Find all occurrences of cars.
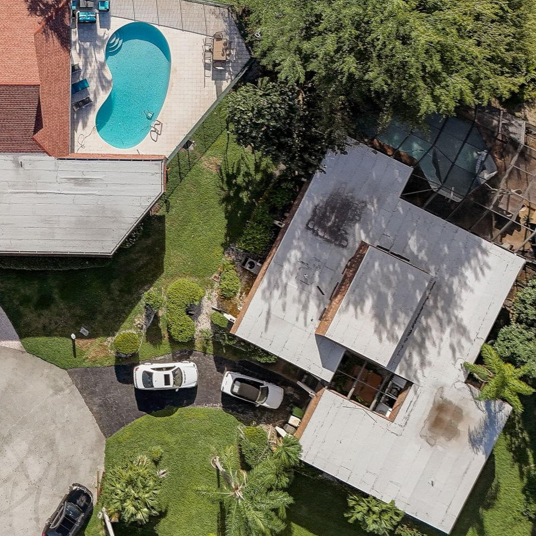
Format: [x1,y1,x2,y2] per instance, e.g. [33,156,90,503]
[220,368,284,411]
[132,361,197,393]
[42,482,91,536]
